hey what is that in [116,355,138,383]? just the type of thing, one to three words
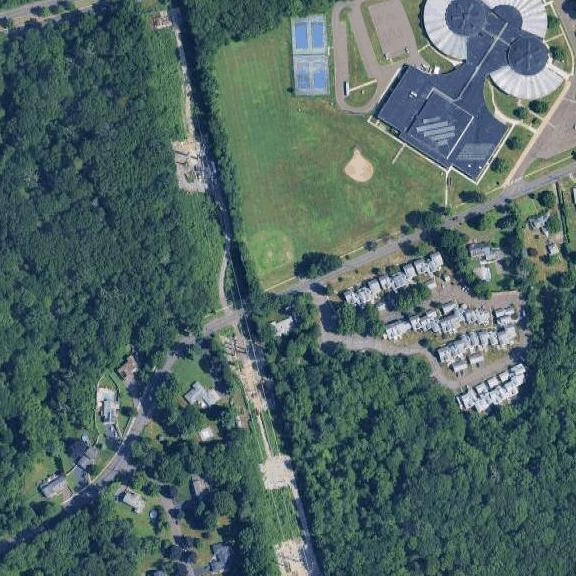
house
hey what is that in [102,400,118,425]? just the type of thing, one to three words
house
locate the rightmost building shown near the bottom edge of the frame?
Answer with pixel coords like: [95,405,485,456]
[211,542,231,572]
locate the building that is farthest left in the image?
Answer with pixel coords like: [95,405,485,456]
[39,473,69,497]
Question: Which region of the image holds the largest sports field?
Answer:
top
